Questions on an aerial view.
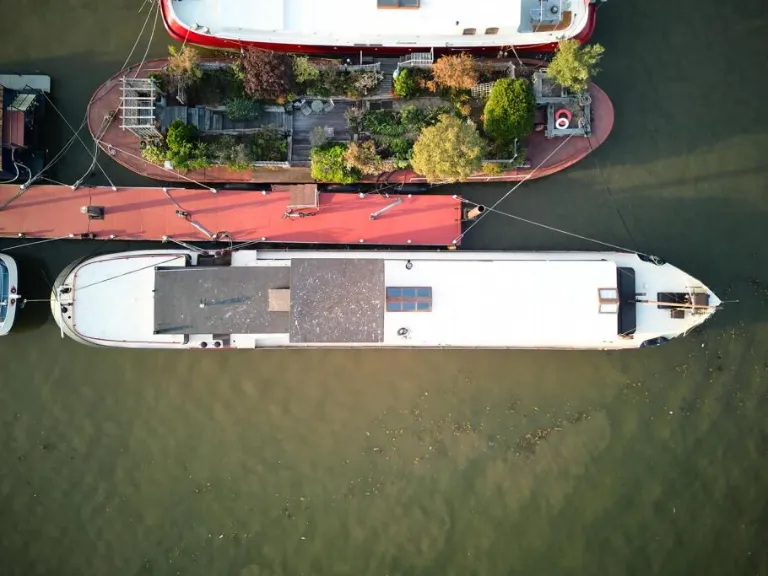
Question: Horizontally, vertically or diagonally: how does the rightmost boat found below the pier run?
horizontally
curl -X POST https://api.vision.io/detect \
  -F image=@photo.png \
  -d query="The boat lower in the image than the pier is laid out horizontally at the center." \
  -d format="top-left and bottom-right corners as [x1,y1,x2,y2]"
[50,248,739,351]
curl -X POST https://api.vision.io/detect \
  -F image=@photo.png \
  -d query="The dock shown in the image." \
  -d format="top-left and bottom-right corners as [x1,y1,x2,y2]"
[0,184,474,246]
